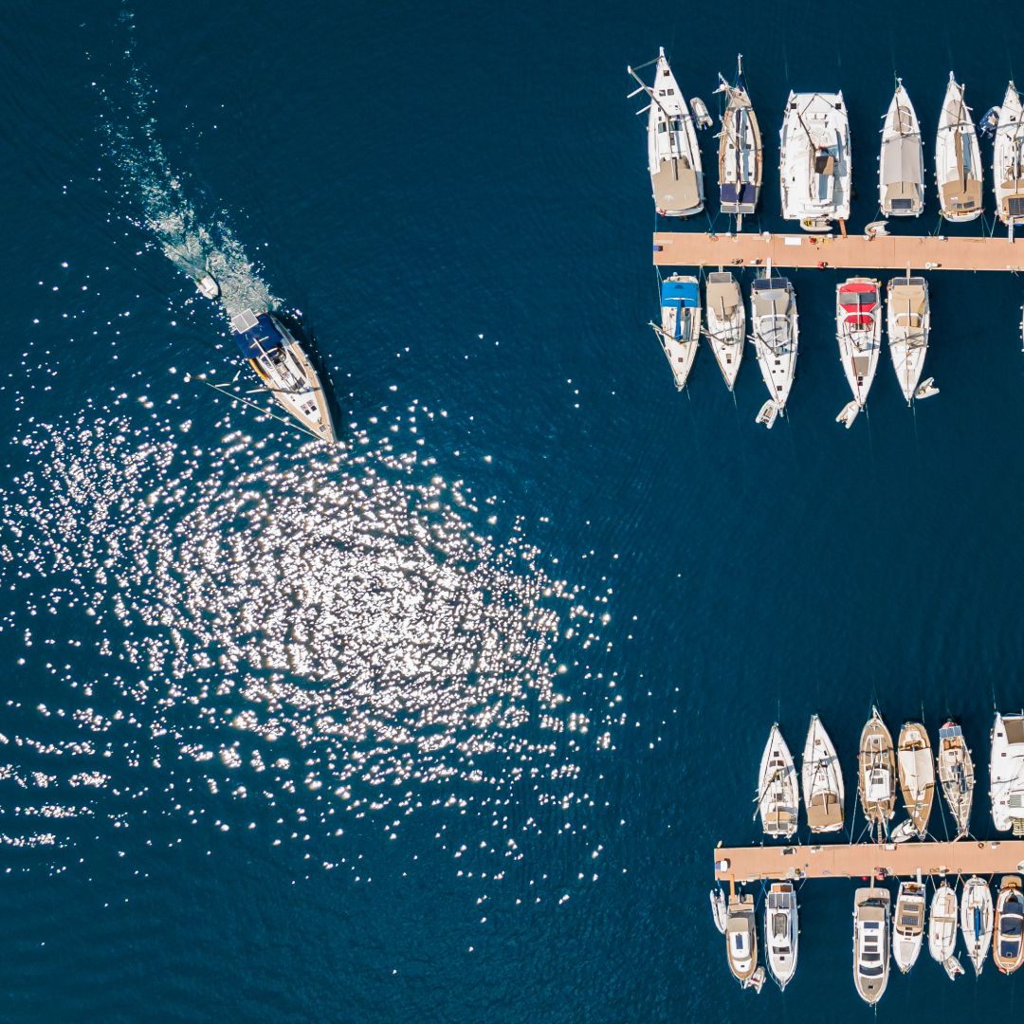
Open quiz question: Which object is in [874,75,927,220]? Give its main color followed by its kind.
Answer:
white boat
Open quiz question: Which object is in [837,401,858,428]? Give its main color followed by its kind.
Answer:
white boat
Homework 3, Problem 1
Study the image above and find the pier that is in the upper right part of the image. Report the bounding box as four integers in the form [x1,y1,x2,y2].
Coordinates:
[652,233,1024,272]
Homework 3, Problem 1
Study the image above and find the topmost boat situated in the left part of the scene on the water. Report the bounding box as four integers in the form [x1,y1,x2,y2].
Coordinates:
[195,274,217,298]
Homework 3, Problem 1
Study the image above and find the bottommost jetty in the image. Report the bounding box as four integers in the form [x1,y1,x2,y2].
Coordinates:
[713,840,1024,880]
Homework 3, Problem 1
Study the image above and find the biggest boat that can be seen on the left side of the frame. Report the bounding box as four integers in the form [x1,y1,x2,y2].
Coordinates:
[195,305,339,448]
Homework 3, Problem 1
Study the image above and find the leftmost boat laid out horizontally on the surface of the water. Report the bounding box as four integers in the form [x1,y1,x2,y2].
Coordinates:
[800,219,834,232]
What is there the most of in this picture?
water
